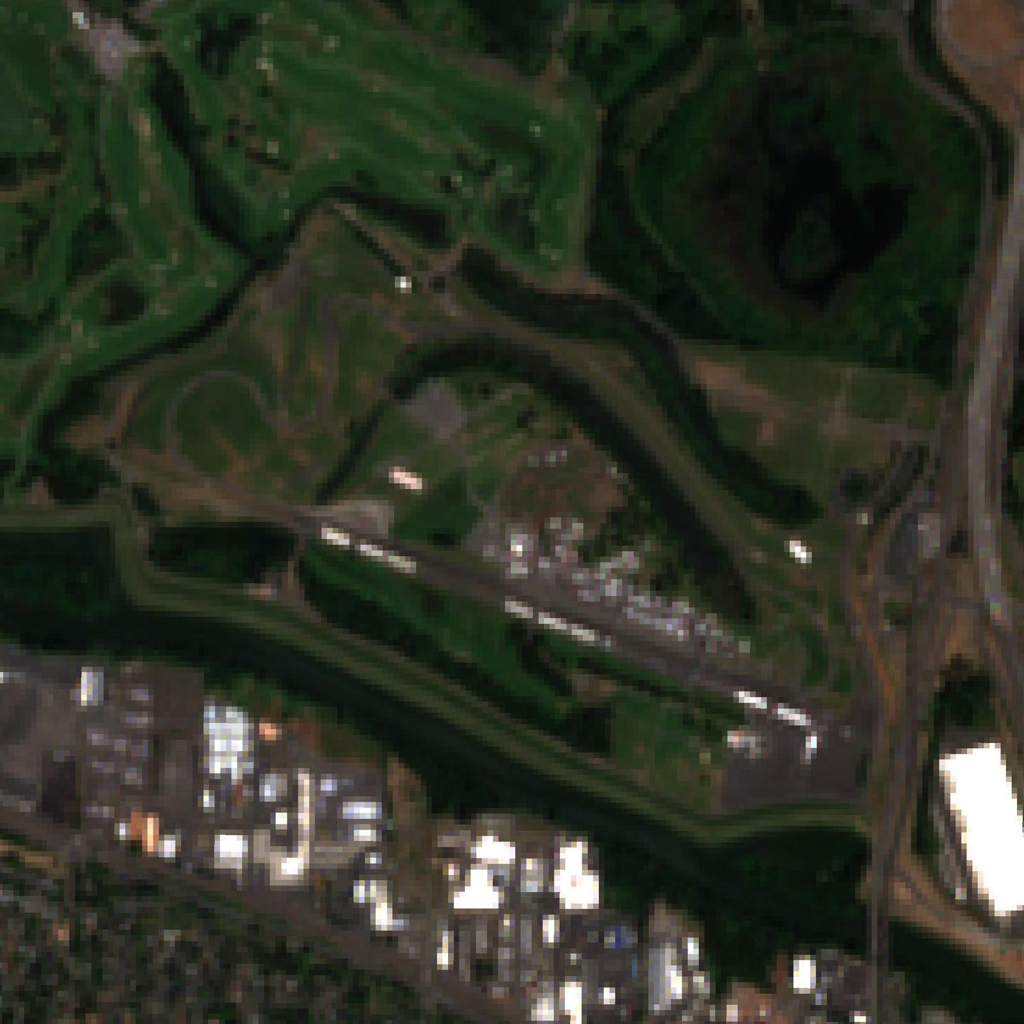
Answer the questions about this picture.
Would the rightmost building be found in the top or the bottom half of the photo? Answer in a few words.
bottom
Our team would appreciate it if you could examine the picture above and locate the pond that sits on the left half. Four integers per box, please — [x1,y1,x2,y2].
[330,192,446,246]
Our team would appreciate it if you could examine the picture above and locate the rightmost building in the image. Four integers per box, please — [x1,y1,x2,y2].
[940,741,1024,917]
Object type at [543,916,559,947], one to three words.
building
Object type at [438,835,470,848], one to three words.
shed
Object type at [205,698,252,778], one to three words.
building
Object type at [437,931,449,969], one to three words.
shed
